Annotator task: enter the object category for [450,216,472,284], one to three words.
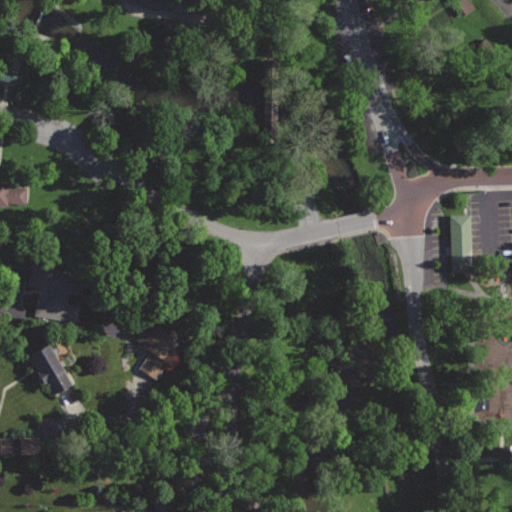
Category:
building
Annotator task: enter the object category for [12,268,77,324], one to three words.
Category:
house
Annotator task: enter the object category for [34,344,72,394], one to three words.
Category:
house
